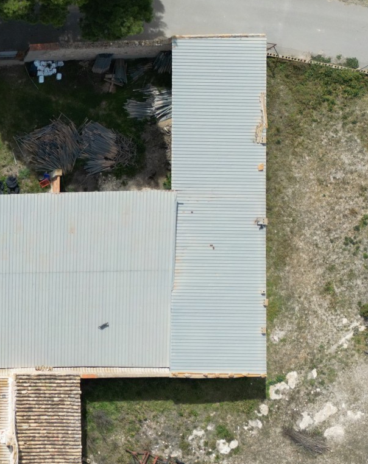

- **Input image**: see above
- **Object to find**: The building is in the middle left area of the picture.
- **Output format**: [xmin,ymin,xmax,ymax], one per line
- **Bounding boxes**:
[0,191,177,368]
